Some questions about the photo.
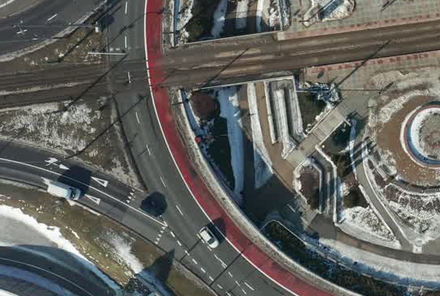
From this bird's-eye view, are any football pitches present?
No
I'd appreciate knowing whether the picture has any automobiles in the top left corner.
No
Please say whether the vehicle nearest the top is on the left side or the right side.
left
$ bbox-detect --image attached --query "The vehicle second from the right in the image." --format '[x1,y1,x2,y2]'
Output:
[136,196,163,219]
